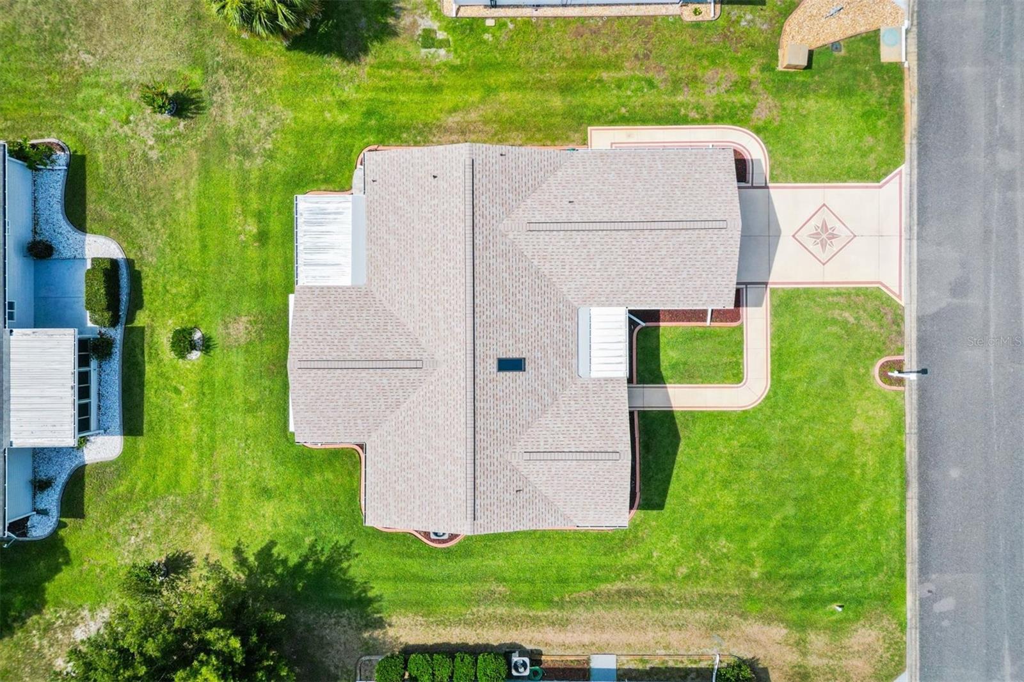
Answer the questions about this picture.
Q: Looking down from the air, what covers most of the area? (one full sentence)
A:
Most of the picture is covered by grass.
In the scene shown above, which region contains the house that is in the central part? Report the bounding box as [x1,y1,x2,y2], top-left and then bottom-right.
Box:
[287,142,741,535]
